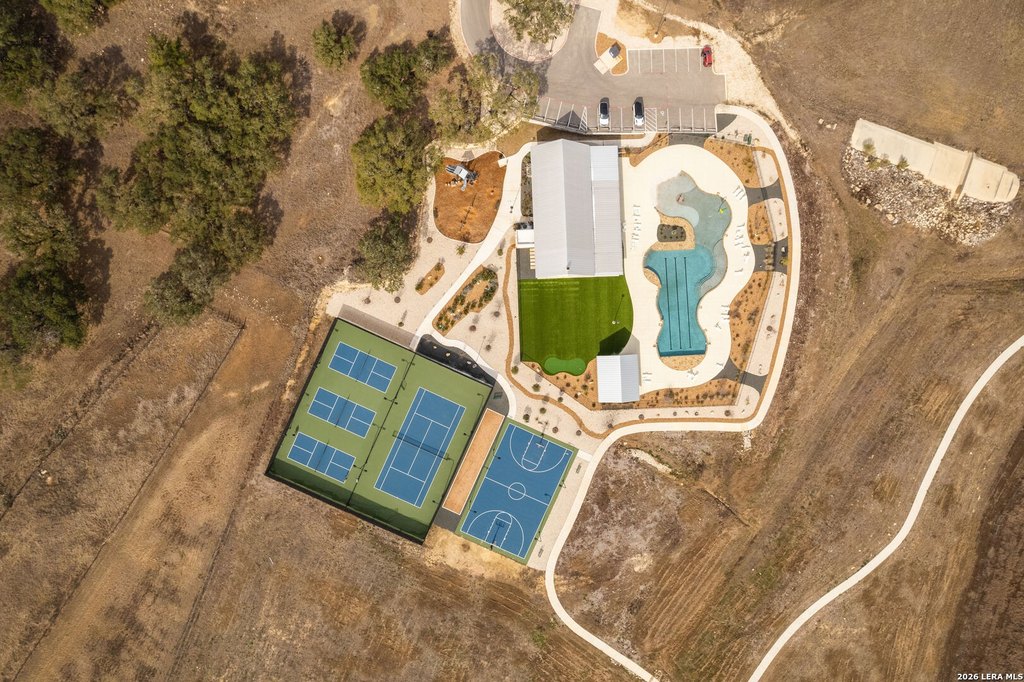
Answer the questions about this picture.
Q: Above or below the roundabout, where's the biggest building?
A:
below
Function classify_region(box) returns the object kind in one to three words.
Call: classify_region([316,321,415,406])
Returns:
sports court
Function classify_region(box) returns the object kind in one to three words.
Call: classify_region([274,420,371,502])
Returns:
sports court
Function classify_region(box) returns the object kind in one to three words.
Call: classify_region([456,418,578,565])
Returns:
basketball court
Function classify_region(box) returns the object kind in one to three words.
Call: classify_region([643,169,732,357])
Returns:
swimming pool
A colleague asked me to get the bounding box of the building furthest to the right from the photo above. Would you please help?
[596,354,640,403]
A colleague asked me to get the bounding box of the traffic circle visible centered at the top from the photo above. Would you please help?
[489,0,577,62]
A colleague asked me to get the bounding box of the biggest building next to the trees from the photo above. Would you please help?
[518,140,623,279]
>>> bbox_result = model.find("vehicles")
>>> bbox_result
[702,45,712,67]
[634,103,644,126]
[599,103,610,126]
